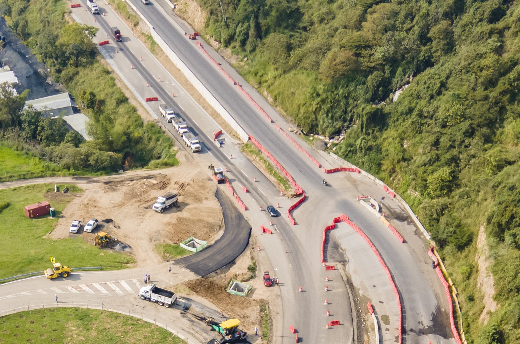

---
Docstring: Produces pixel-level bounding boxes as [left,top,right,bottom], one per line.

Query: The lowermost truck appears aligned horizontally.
[139,282,182,306]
